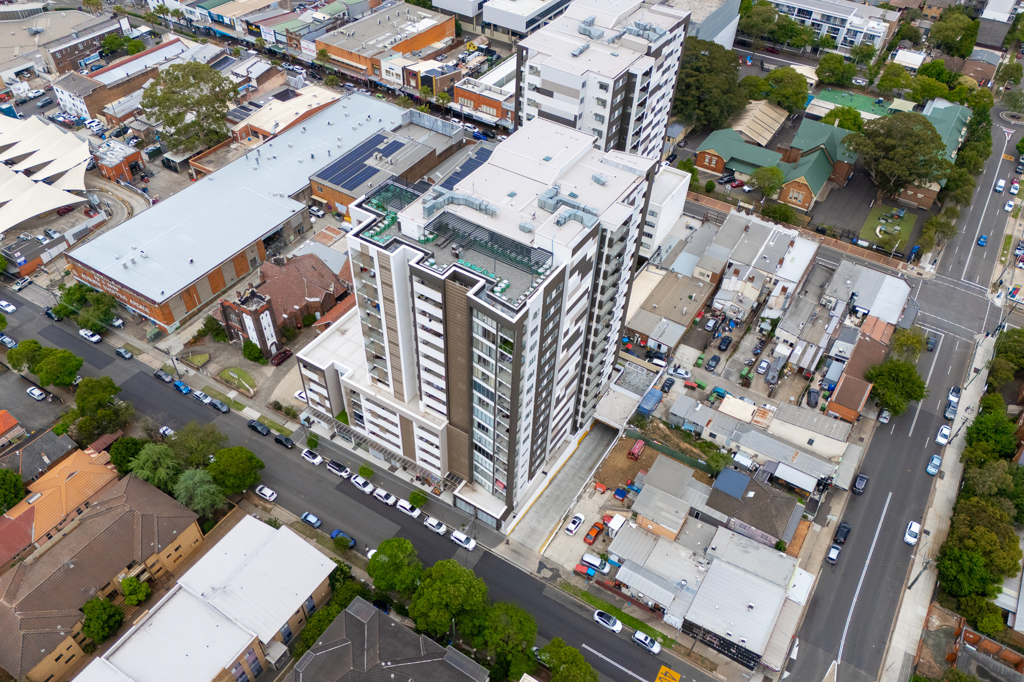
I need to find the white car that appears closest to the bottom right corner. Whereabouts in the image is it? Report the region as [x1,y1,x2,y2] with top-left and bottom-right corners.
[903,520,922,547]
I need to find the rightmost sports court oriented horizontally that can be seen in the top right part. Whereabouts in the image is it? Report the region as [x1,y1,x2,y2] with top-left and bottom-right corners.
[818,86,891,108]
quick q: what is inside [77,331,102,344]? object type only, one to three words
vehicle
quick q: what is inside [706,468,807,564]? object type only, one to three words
house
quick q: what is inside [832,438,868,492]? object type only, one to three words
building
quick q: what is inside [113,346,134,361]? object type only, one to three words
car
